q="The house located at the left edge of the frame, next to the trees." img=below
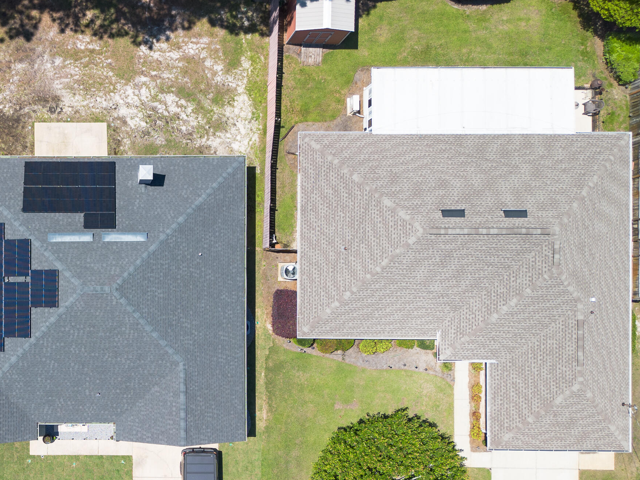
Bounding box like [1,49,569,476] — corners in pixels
[0,154,249,447]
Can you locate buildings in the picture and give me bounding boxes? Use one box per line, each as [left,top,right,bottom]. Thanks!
[294,65,635,453]
[281,0,356,65]
[0,154,249,447]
